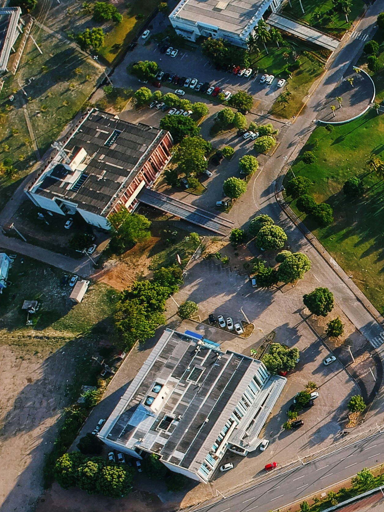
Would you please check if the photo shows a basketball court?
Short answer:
No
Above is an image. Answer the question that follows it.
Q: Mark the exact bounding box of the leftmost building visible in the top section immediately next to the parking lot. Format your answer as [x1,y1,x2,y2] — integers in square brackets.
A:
[28,108,174,228]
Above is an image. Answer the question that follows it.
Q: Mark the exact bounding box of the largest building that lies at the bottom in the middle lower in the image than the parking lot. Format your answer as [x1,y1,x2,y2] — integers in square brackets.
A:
[96,328,271,486]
